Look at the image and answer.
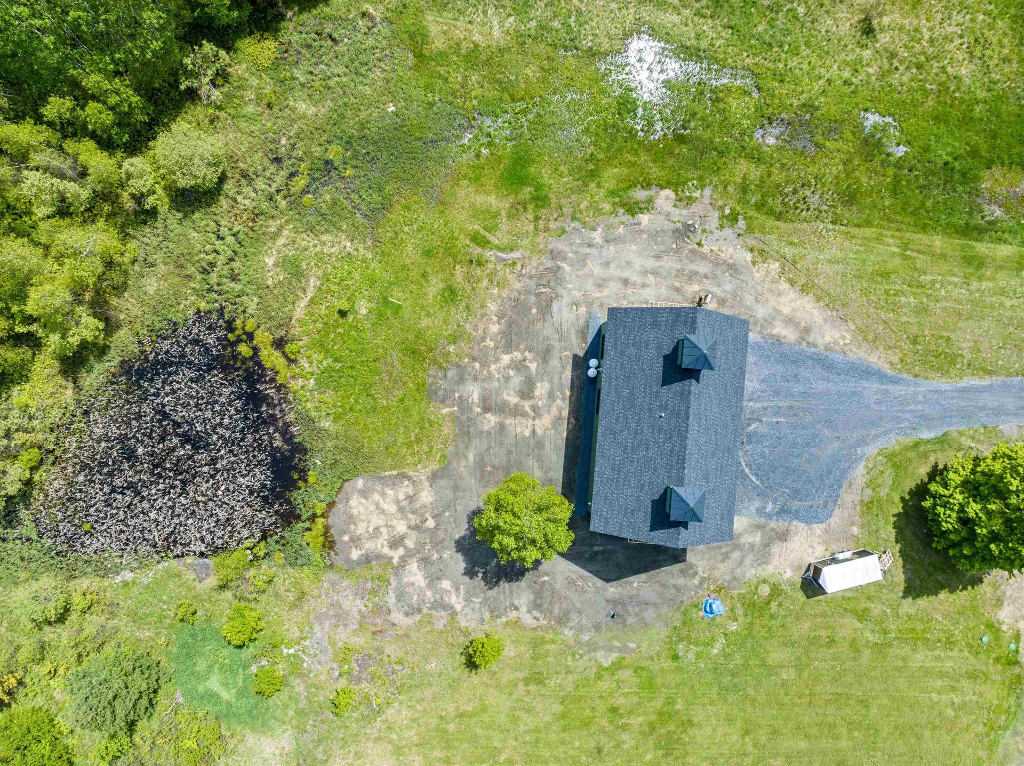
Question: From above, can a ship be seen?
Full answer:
No, the scene contains no ship.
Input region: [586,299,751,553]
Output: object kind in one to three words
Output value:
barn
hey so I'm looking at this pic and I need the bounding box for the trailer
[797,548,882,594]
